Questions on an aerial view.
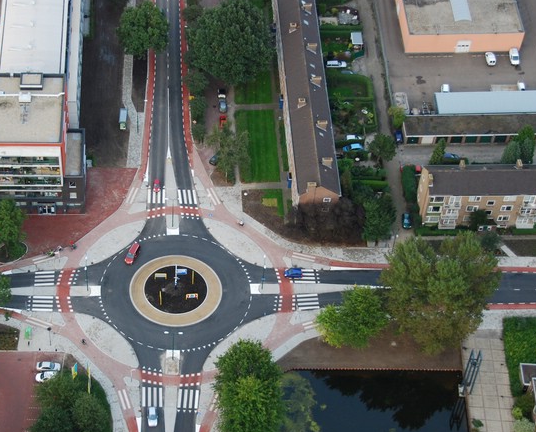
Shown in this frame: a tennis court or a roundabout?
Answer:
roundabout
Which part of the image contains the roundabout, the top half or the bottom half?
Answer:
bottom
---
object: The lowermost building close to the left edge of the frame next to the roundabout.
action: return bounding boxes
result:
[0,72,86,214]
